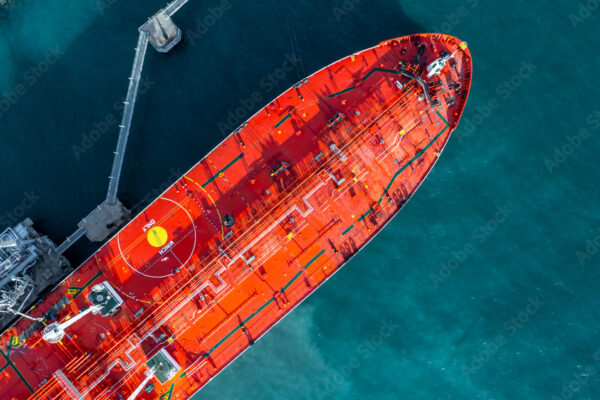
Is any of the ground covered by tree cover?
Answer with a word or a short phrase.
No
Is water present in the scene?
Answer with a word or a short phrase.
Yes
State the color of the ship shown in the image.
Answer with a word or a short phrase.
red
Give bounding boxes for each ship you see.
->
[0,33,475,400]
